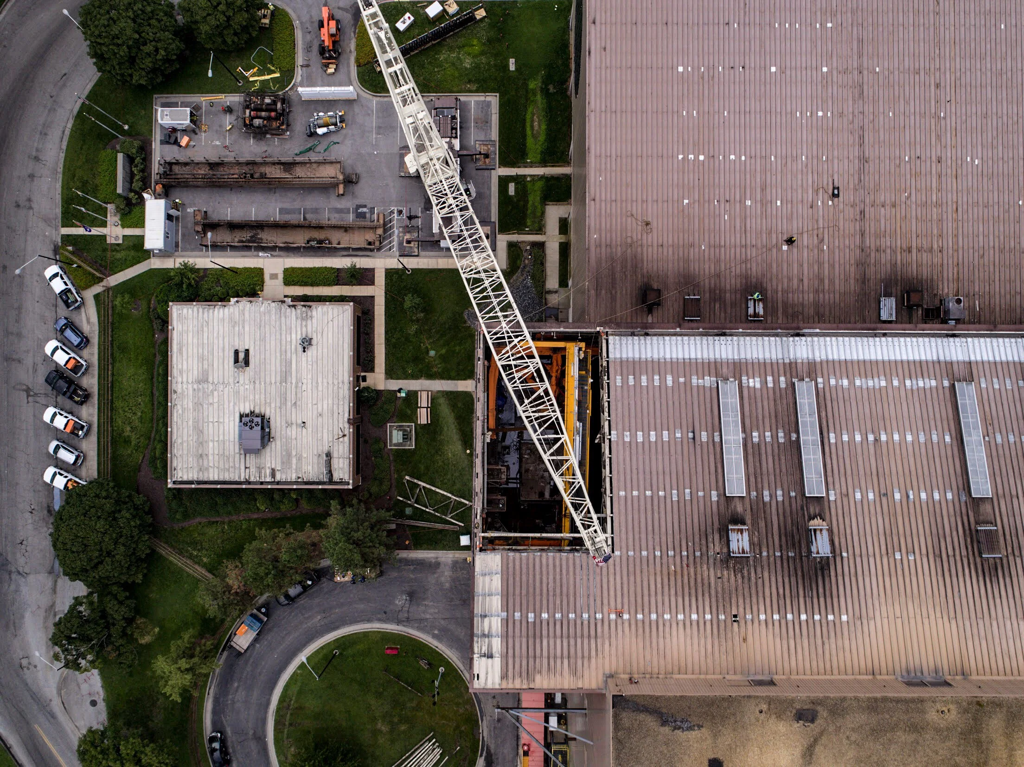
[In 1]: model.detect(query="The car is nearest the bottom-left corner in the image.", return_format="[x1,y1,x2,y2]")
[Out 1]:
[206,729,232,767]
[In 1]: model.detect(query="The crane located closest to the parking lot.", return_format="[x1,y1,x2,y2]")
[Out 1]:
[356,0,612,563]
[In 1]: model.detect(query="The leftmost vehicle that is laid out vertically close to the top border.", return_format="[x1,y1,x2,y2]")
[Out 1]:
[317,6,342,73]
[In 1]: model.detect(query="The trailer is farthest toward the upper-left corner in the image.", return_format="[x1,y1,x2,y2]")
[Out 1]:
[156,107,208,130]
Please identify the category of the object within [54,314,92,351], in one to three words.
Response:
car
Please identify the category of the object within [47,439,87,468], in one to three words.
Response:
car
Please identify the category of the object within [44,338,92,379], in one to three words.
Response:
truck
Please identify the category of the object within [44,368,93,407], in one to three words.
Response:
truck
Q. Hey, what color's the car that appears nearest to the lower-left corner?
black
